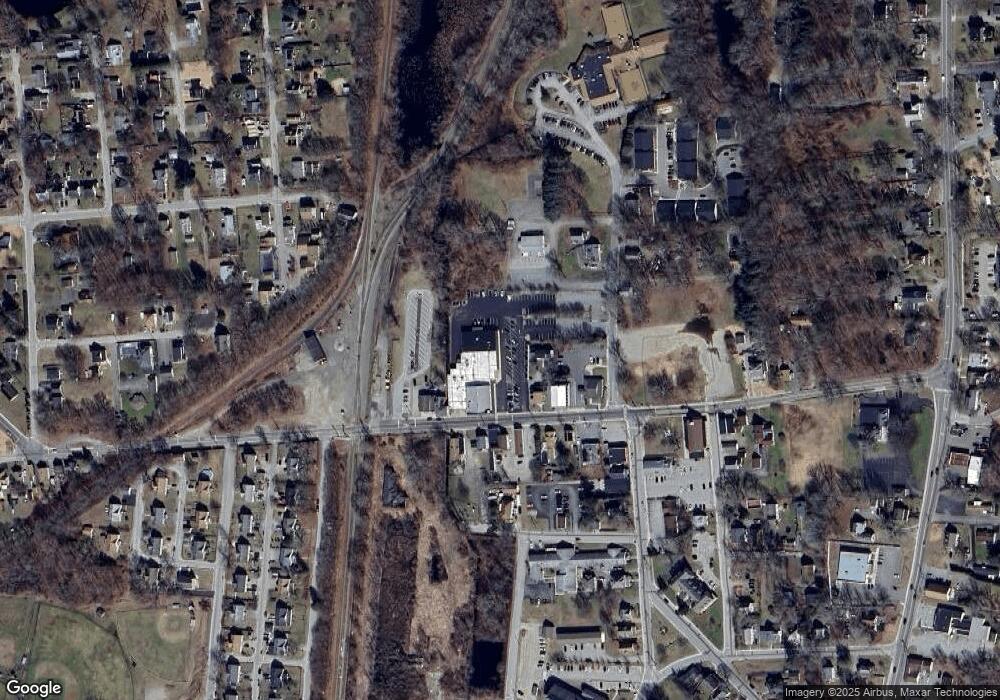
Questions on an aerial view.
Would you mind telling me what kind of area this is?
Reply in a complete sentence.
What you see here is a residential area.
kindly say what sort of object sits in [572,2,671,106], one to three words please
building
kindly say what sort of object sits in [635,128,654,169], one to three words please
house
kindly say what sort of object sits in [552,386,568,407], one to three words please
building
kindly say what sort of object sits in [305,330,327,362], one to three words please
shed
